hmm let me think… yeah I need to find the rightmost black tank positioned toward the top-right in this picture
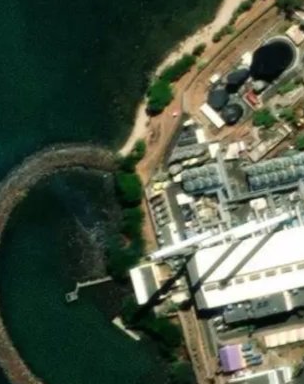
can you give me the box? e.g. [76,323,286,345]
[252,39,295,77]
